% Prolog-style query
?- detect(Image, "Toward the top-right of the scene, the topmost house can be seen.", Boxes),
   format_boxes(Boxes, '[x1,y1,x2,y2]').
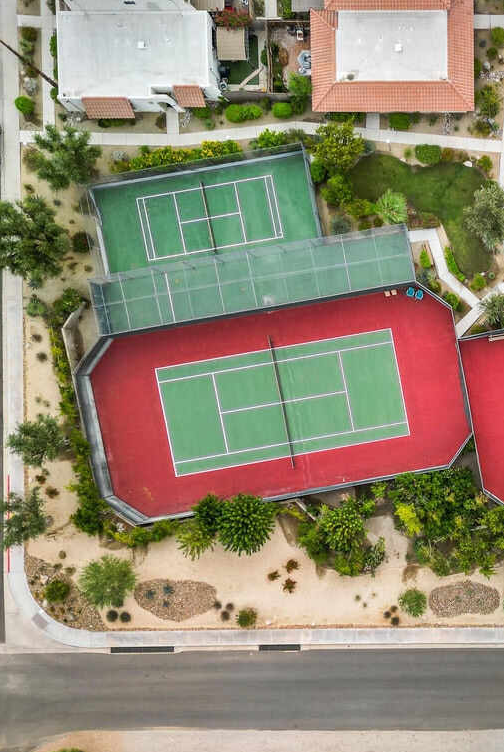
[311,0,475,115]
